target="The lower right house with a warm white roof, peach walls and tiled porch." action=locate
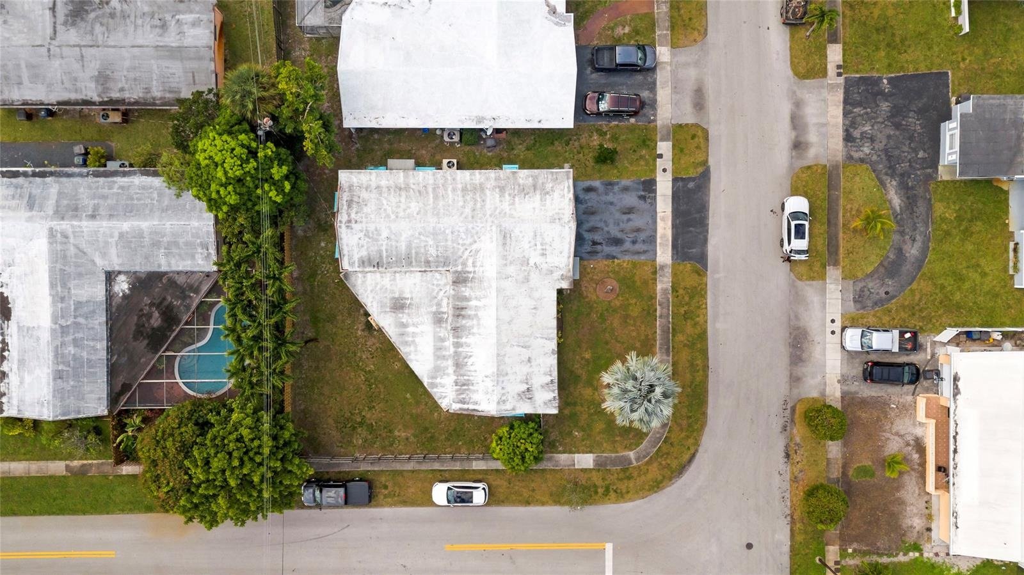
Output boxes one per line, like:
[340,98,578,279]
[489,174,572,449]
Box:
[918,348,1024,564]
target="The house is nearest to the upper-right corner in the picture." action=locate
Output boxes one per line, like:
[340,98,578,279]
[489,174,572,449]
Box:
[941,94,1024,181]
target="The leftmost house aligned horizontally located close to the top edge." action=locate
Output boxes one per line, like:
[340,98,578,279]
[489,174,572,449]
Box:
[0,0,239,108]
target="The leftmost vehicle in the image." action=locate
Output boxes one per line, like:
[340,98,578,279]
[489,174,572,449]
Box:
[303,479,373,510]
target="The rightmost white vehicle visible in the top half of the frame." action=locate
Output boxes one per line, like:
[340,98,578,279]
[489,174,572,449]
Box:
[779,198,813,259]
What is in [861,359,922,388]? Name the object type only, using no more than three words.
car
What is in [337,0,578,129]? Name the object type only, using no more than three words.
house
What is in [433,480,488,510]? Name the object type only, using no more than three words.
car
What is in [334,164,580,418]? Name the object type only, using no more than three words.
house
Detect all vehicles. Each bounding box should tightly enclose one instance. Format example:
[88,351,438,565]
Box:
[433,480,488,510]
[780,0,810,26]
[583,88,641,118]
[843,326,920,355]
[590,41,656,73]
[779,198,813,259]
[861,359,922,388]
[303,479,373,510]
